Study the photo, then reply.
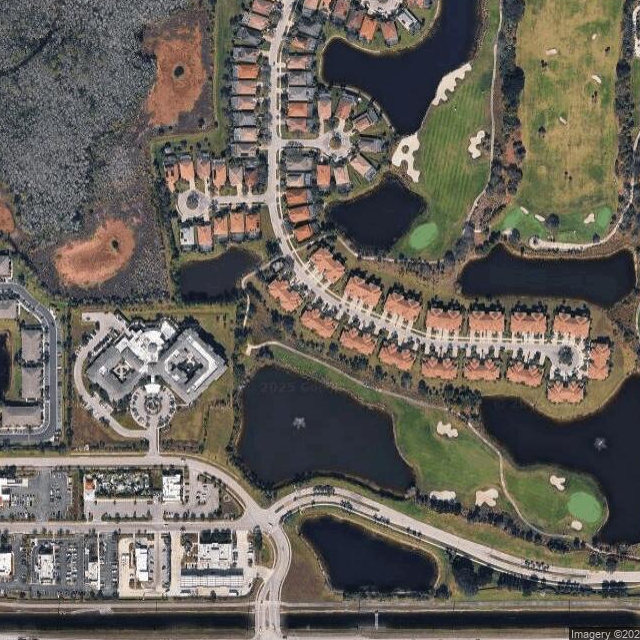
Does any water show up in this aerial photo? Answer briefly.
Yes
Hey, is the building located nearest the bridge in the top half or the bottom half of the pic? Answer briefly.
bottom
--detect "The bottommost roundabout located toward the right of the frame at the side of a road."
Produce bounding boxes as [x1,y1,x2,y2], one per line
[548,334,583,369]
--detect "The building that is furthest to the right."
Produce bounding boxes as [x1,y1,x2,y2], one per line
[588,343,612,379]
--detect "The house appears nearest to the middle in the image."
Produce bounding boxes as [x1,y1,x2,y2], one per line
[301,307,338,338]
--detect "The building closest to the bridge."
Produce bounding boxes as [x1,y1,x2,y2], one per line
[198,544,233,569]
